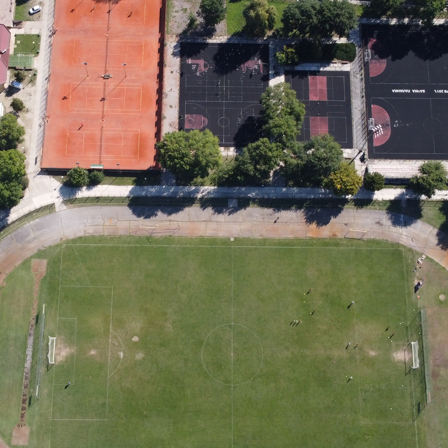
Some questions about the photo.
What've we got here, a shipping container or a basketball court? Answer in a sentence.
There is a basketball court in the scene.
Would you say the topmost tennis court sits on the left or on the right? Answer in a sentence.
The topmost tennis court appears in the left half of the scene.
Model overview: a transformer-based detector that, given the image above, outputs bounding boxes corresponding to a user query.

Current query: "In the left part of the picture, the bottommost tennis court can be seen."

[41,122,162,168]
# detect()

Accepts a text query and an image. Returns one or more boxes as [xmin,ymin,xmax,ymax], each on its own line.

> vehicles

[9,80,23,89]
[28,4,42,14]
